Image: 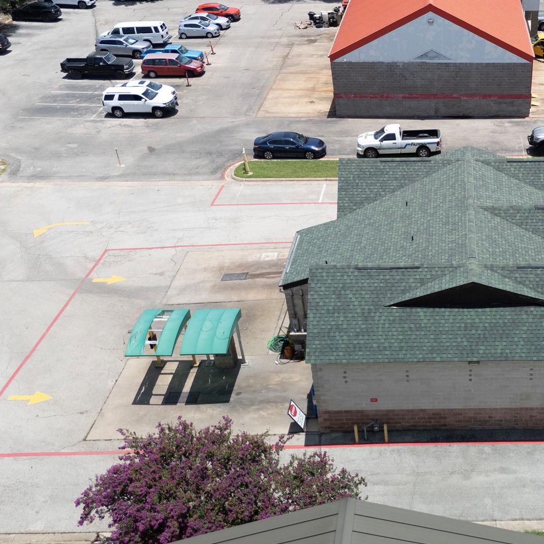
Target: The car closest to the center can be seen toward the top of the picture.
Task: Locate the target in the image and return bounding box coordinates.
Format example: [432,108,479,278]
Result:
[249,129,327,158]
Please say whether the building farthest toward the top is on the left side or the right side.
right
